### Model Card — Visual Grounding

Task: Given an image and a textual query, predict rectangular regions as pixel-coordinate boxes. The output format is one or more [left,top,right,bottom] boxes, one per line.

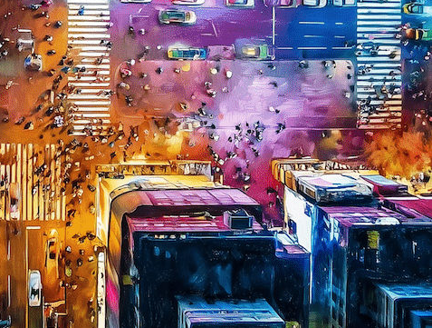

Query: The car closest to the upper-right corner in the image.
[400,1,425,17]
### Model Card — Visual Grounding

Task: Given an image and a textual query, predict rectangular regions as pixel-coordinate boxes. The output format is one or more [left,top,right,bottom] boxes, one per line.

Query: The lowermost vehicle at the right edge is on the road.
[399,25,431,42]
